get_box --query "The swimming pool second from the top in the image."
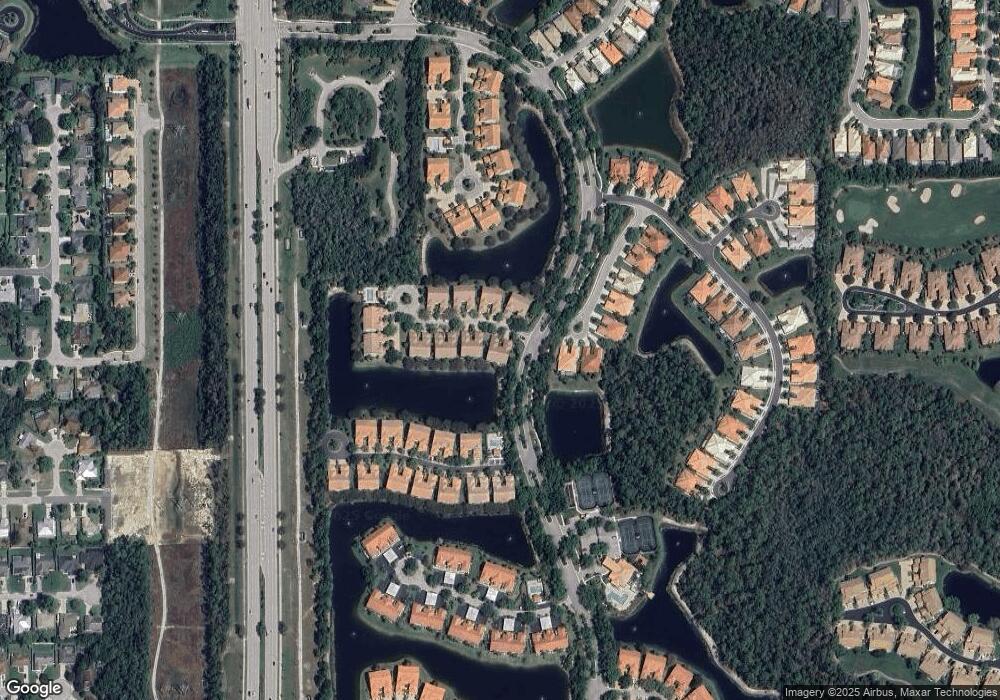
[363,287,378,303]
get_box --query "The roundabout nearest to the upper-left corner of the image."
[0,4,25,33]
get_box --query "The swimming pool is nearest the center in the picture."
[487,433,503,449]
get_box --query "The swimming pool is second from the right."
[527,580,543,596]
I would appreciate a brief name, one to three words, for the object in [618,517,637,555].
tennis court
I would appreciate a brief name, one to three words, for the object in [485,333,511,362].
house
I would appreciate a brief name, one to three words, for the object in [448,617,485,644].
building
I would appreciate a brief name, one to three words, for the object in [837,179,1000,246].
golf course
